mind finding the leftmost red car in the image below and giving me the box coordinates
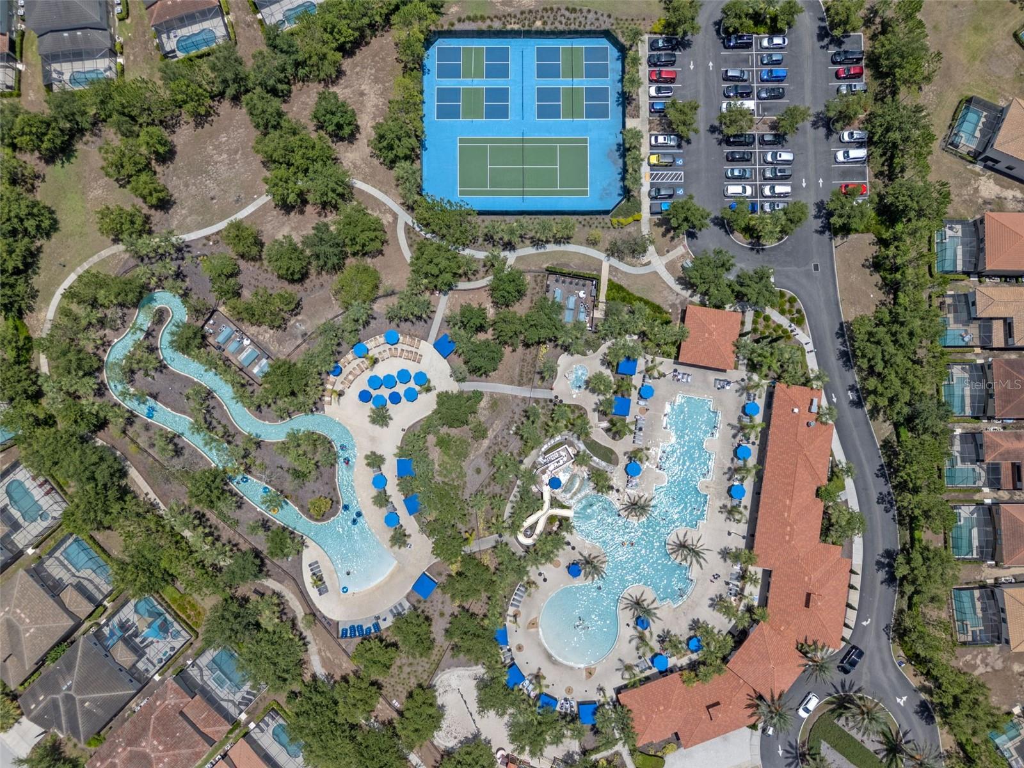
[649,69,676,84]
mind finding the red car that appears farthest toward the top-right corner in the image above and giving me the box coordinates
[835,65,862,80]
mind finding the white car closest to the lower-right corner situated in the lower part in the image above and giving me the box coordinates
[796,692,820,718]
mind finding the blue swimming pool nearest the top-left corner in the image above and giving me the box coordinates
[69,69,106,86]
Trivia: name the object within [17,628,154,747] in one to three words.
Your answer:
house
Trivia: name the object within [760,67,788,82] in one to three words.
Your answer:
car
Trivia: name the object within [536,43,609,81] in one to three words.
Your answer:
sports court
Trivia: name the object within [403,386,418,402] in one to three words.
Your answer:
umbrella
